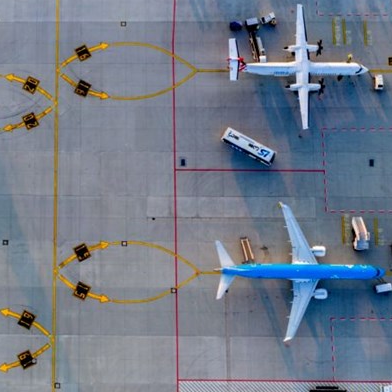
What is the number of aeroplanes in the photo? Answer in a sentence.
The photo contains 2 aeroplanes.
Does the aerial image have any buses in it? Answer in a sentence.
Yes, a bus appears in the view.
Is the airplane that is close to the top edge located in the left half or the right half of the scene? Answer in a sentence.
It is on the right.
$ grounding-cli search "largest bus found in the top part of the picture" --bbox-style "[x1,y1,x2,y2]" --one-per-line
[221,127,276,164]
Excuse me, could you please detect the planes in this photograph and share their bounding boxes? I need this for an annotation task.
[227,7,368,130]
[214,201,384,341]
